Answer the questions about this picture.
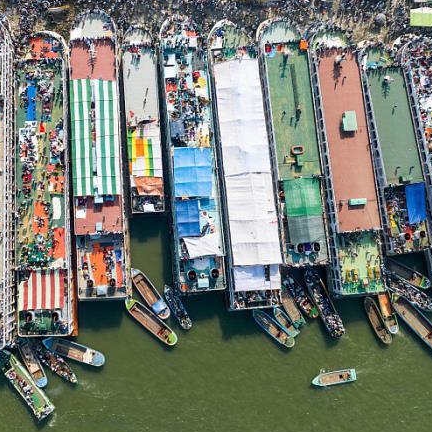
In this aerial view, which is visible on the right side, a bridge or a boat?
boat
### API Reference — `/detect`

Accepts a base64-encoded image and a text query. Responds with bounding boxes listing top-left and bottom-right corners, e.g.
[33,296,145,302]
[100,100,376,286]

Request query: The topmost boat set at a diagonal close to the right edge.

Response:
[384,258,421,288]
